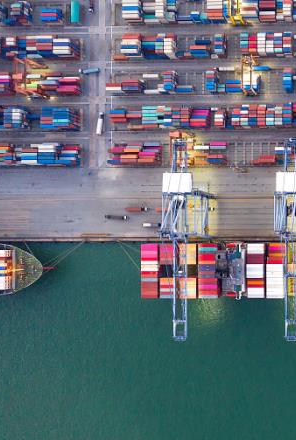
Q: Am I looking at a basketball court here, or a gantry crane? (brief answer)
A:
gantry crane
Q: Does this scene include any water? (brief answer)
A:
Yes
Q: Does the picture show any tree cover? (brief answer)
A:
No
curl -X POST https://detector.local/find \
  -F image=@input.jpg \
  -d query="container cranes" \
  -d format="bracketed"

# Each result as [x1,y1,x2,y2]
[227,0,247,28]
[273,140,296,342]
[161,135,218,342]
[13,57,45,98]
[240,57,260,100]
